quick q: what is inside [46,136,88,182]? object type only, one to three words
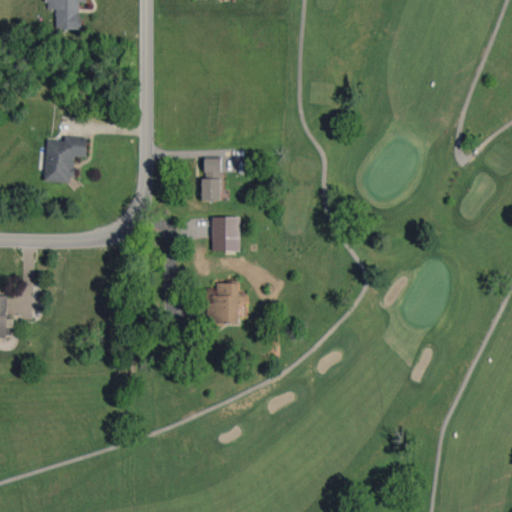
house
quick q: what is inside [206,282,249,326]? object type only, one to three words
house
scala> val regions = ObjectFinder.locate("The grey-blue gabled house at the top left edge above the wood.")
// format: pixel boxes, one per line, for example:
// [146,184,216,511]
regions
[44,0,85,33]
